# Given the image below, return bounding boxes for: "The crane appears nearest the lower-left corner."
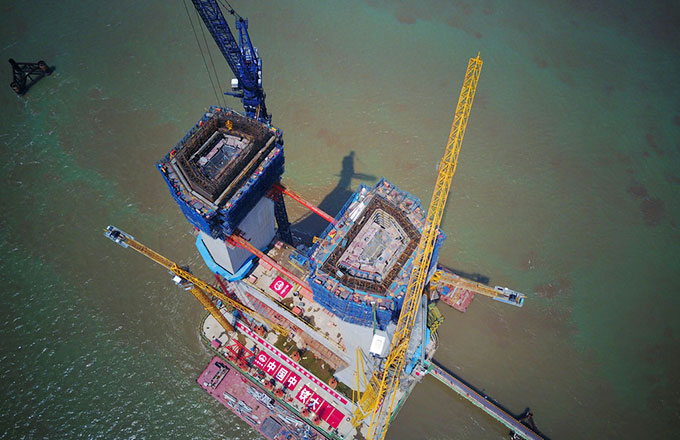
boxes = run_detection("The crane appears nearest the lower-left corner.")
[96,223,290,338]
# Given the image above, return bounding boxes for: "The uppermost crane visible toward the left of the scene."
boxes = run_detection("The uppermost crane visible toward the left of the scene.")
[184,0,292,246]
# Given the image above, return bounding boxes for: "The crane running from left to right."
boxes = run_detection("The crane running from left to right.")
[410,269,531,307]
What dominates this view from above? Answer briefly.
water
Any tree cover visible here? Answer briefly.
No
